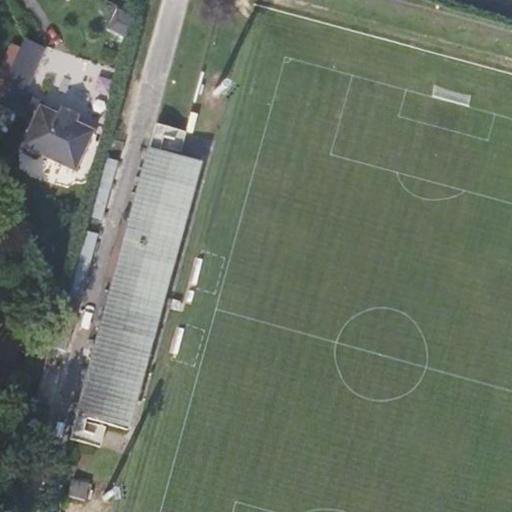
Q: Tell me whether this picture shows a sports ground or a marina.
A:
sports ground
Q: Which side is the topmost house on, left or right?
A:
left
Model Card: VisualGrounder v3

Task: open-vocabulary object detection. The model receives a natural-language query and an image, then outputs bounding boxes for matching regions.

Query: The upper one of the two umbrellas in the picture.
[98,76,112,90]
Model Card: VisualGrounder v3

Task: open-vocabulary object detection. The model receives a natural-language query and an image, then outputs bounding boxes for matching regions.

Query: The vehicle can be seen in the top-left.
[46,26,61,47]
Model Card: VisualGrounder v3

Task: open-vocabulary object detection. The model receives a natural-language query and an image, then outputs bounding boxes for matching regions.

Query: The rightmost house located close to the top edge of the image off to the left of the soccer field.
[101,4,133,42]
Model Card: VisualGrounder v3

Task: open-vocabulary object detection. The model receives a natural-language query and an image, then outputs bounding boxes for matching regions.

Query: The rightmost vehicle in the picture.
[80,304,94,332]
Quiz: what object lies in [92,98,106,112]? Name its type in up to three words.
umbrella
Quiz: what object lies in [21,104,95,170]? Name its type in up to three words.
house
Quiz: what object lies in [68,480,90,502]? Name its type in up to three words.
shed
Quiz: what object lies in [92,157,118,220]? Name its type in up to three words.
shed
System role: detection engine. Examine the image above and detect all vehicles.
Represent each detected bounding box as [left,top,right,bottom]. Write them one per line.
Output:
[80,304,94,332]
[55,422,64,438]
[46,26,61,47]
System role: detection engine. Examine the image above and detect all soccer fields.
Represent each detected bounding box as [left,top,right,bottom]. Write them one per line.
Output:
[134,10,512,512]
